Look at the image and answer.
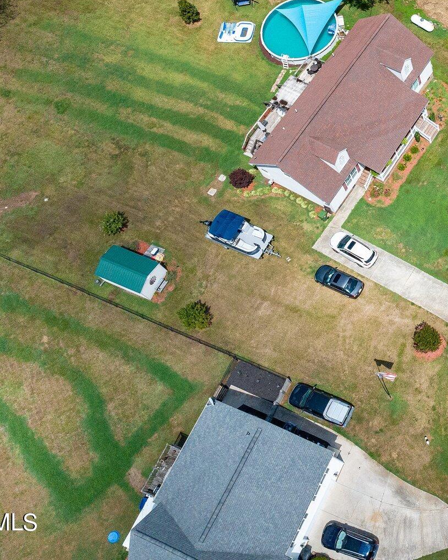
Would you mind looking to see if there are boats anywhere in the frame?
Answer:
Yes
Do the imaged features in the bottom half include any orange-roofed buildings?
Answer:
No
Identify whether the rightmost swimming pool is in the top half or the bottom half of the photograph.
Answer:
top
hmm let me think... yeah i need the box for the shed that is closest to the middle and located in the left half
[94,244,167,299]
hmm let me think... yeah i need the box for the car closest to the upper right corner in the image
[330,233,379,270]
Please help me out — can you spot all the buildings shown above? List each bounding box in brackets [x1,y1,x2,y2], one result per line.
[94,244,167,299]
[240,12,441,212]
[122,399,349,560]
